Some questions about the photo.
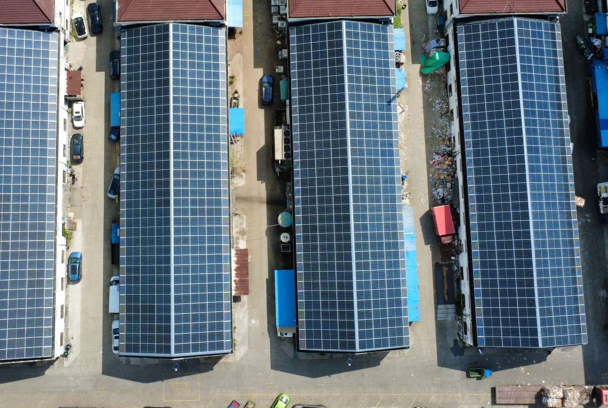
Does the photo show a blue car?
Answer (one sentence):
Yes, looking at the shot, I can spot a blue car.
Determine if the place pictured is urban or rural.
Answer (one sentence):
This place is urban.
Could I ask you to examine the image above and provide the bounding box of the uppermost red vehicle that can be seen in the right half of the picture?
[426,205,455,246]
